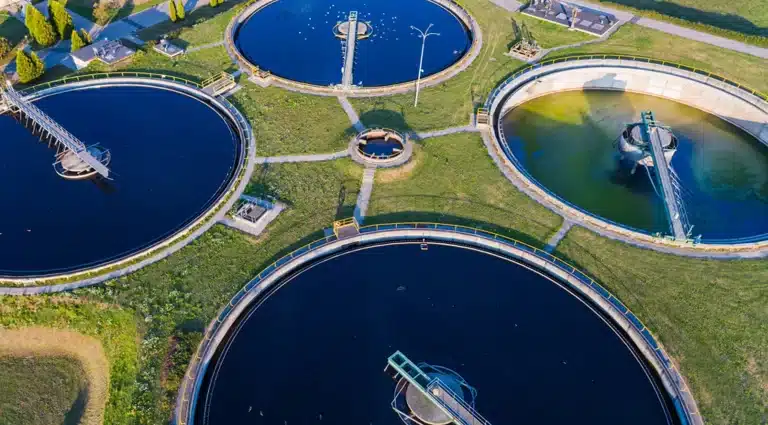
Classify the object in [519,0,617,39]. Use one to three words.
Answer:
building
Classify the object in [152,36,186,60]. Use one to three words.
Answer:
house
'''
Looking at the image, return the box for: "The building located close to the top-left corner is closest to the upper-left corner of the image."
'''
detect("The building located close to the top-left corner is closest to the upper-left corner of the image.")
[69,37,146,70]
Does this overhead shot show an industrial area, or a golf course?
industrial area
